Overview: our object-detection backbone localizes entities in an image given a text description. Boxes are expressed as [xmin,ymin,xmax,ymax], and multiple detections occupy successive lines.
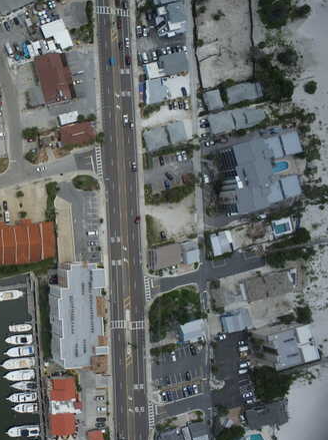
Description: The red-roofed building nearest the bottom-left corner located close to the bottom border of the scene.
[50,412,76,435]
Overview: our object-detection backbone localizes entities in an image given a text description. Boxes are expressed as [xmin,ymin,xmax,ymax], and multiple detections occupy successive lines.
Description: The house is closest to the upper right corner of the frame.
[225,82,263,104]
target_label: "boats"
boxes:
[6,426,40,437]
[11,382,37,393]
[4,372,36,382]
[6,393,38,403]
[1,359,35,370]
[12,405,39,413]
[8,325,32,331]
[6,347,34,356]
[0,290,22,300]
[4,335,33,345]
